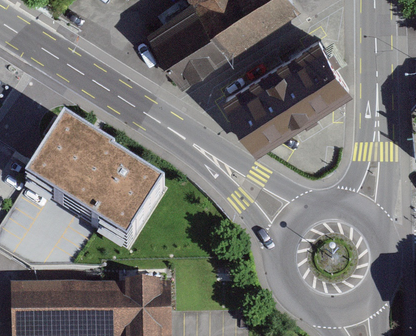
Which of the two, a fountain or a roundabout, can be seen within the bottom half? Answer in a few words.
roundabout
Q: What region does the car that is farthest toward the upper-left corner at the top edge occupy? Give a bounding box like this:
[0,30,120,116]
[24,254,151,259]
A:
[64,10,86,27]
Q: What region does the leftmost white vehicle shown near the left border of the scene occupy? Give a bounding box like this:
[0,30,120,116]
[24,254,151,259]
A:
[3,174,26,192]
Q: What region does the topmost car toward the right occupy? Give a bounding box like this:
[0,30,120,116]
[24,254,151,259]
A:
[246,64,267,80]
